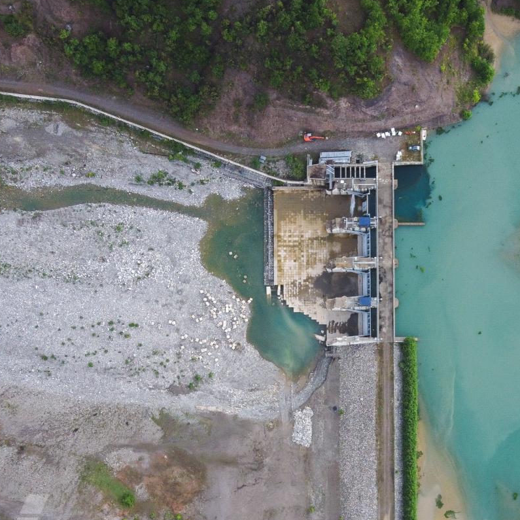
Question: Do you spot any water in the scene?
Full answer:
Yes, the picture does contain water.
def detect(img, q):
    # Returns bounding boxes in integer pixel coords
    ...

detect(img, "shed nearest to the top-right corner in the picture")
[319,151,352,166]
